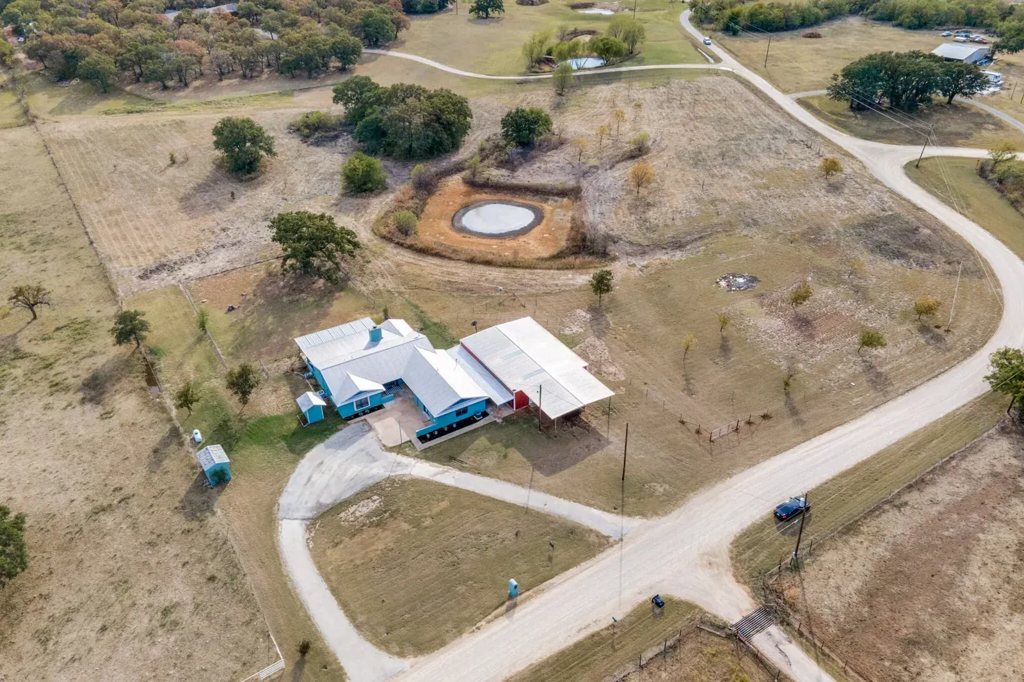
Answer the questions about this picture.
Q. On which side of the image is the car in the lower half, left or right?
right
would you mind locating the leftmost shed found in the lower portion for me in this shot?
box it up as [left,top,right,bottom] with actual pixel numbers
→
[204,452,234,485]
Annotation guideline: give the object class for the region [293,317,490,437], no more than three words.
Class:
house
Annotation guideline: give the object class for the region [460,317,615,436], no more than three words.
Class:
barn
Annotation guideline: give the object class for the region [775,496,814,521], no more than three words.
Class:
car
